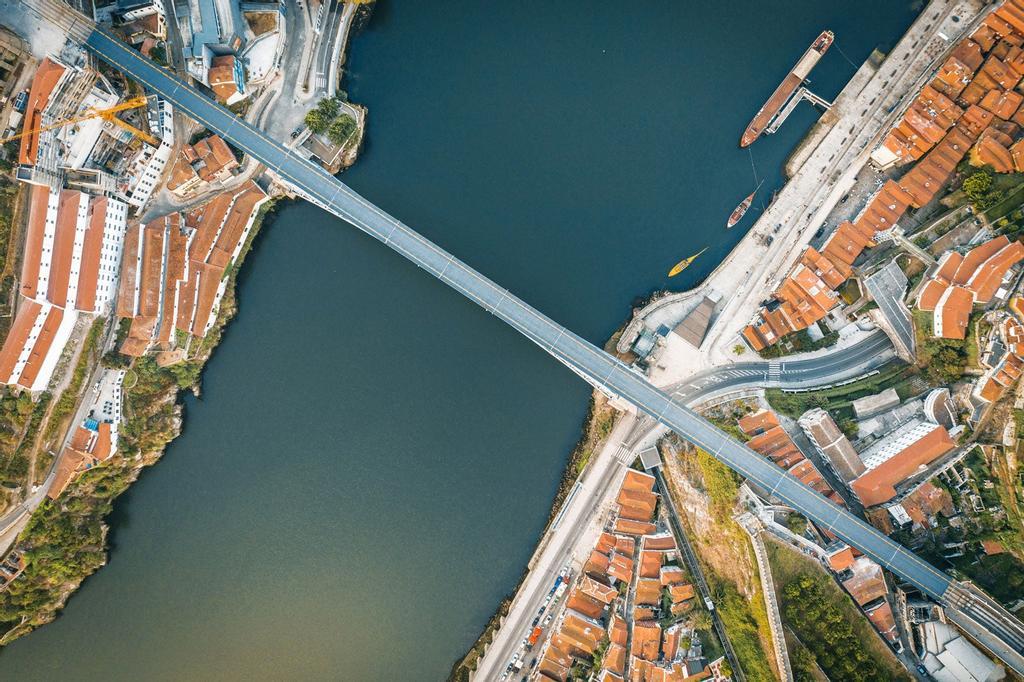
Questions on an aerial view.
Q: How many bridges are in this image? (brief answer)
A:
1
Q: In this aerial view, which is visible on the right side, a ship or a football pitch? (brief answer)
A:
ship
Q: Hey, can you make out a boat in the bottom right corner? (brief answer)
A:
No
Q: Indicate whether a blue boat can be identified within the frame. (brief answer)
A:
No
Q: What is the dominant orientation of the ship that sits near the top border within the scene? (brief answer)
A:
at an angle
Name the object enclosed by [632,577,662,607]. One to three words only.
house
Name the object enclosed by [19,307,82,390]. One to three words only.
building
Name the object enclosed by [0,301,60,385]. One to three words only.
building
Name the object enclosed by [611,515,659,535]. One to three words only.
house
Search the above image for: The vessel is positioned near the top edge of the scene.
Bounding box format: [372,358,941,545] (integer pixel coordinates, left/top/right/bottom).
[740,27,836,148]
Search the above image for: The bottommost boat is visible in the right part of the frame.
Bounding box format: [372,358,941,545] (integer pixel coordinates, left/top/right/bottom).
[668,247,709,277]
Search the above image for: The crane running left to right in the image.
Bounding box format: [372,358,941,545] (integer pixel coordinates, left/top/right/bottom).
[0,100,164,145]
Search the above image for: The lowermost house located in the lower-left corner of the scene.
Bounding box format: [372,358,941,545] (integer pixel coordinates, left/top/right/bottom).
[0,547,30,590]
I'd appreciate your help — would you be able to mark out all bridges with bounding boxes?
[82,24,956,600]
